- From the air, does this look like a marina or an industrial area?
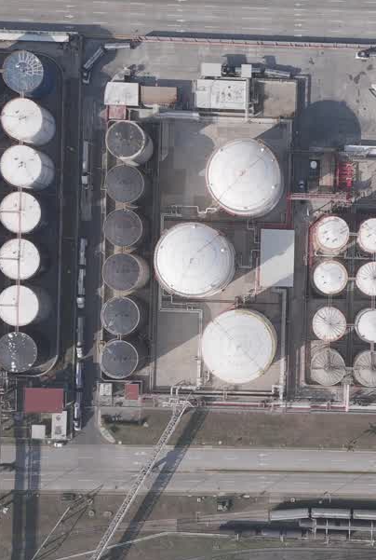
industrial area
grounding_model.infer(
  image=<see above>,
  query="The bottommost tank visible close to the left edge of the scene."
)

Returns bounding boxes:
[0,327,50,371]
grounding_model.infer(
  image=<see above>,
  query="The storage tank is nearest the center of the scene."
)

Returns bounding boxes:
[155,220,237,300]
